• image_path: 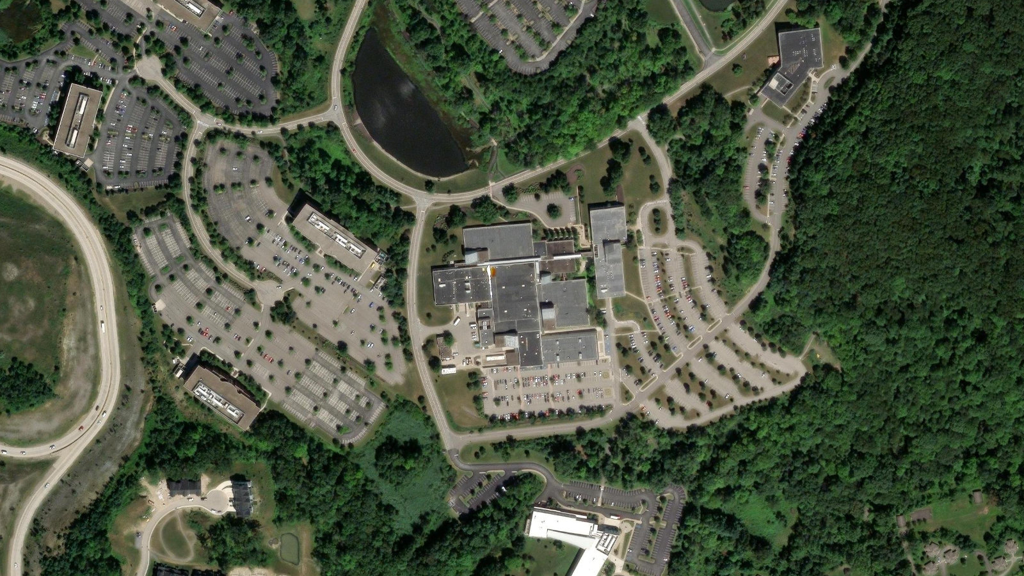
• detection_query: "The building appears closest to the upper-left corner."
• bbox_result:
[53,83,104,158]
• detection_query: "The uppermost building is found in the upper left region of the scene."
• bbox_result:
[159,0,222,33]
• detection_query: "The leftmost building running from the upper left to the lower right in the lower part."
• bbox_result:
[184,365,261,431]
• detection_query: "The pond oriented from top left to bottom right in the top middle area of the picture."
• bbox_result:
[352,27,471,178]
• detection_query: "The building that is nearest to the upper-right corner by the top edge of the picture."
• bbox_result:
[761,28,824,109]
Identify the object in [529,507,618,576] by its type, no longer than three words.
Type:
building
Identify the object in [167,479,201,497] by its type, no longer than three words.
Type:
house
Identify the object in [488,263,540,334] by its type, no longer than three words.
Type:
building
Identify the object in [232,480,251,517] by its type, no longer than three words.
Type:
house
